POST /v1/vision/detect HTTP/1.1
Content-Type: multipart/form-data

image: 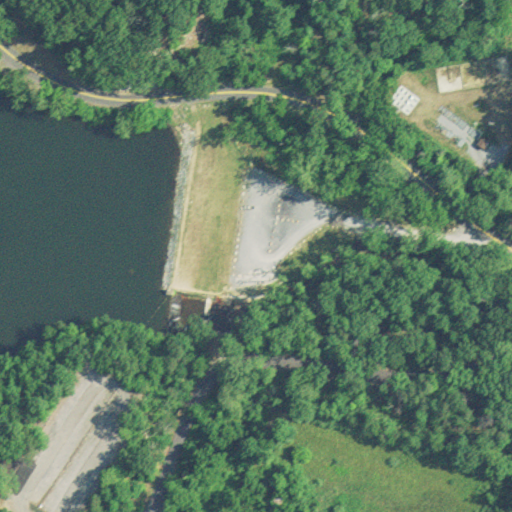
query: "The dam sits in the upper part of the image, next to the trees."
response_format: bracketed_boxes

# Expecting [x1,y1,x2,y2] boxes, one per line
[162,108,251,297]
